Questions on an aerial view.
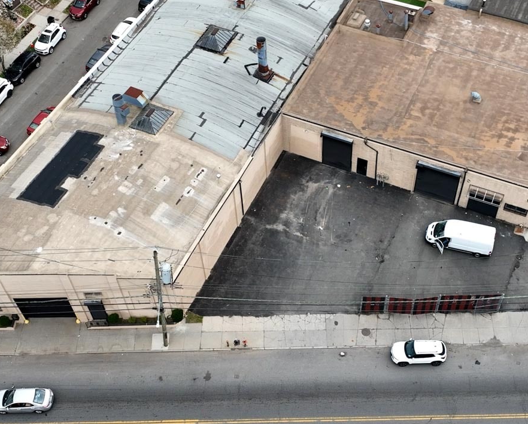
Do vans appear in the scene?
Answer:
Yes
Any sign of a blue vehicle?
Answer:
No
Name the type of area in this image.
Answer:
industrial area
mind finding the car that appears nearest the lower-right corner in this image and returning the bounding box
[388,338,449,369]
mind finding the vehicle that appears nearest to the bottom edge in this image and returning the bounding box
[0,386,57,417]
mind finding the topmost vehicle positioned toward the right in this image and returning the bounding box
[425,224,496,263]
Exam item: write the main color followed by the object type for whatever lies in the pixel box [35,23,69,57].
white car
